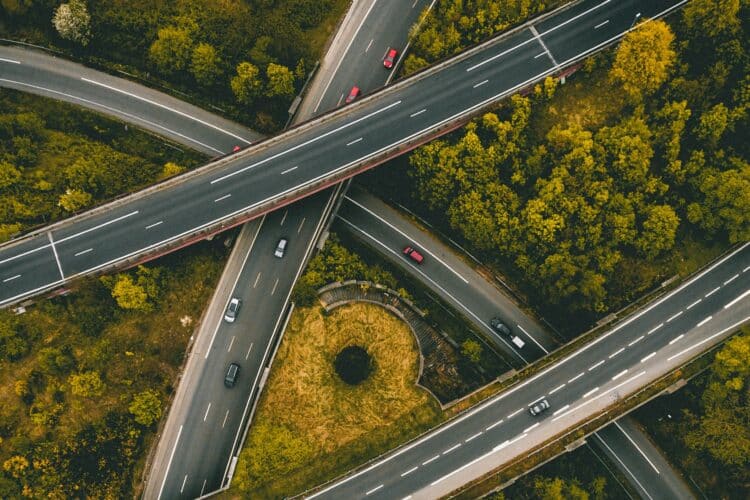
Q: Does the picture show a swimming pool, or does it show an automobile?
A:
automobile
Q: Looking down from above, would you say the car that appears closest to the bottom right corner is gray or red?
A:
gray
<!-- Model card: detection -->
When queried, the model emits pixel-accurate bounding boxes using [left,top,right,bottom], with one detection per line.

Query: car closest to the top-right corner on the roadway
[382,49,398,69]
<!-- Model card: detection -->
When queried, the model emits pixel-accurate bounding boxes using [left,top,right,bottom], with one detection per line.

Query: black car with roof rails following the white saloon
[223,362,241,388]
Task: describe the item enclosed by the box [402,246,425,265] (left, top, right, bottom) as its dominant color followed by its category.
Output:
red car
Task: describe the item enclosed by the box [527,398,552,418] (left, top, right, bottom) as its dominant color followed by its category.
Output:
gray car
